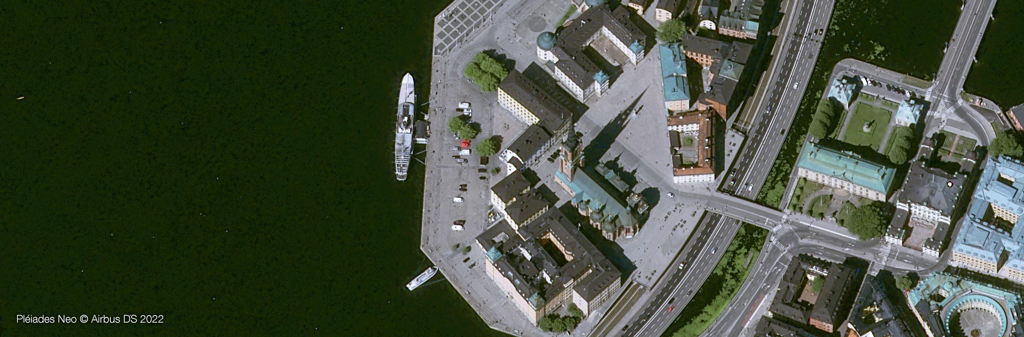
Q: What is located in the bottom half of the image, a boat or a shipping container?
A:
boat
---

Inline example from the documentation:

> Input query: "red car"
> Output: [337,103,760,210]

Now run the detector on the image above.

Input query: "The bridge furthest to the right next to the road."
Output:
[931,0,998,93]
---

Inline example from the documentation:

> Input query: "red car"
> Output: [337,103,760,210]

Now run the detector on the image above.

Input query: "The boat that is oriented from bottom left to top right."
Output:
[406,266,438,291]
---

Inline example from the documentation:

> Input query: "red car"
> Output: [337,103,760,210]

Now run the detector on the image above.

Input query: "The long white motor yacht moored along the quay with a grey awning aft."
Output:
[396,73,415,182]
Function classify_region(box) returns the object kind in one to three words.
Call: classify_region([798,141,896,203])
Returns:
building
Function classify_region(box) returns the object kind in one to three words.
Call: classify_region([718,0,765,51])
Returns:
house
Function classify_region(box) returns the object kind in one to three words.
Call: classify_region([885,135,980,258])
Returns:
building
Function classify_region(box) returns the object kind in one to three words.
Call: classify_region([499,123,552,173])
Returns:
house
